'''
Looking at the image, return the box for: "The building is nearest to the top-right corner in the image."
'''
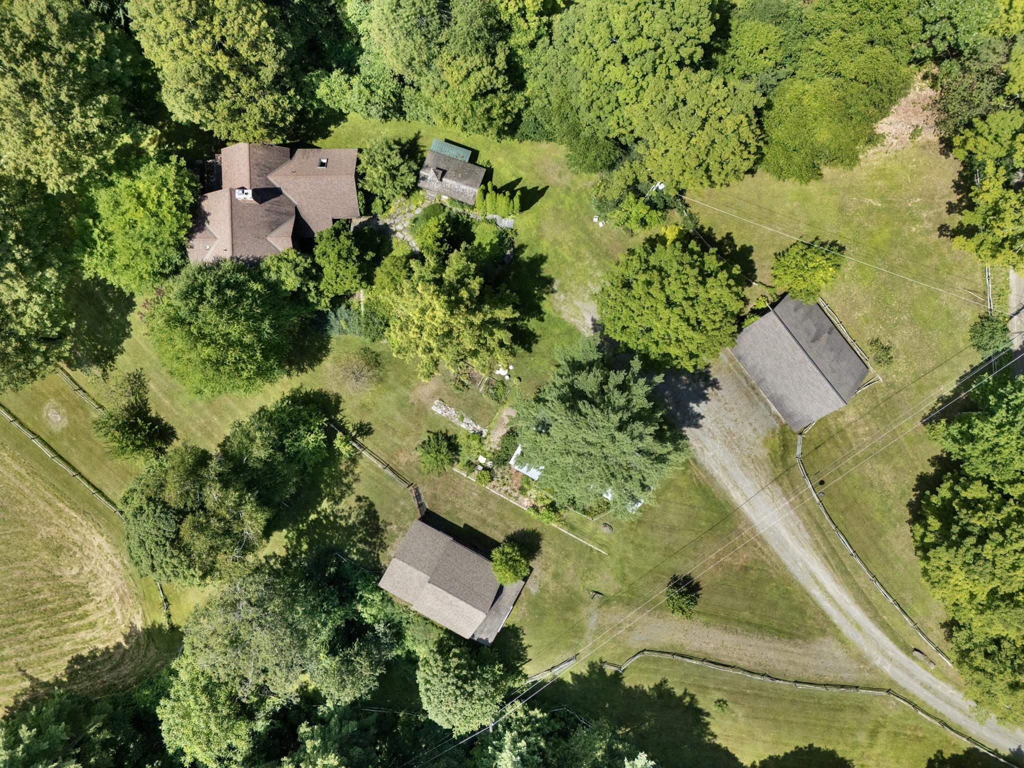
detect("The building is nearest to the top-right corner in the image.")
[724,284,869,433]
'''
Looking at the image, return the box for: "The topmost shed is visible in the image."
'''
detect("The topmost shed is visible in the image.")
[418,140,487,207]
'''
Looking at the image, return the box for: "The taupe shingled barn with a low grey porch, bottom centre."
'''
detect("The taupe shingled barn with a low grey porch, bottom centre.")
[379,518,533,644]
